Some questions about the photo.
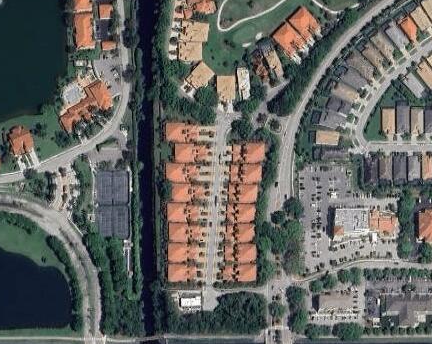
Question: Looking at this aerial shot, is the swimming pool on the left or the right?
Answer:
left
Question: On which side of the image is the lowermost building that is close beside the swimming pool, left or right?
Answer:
left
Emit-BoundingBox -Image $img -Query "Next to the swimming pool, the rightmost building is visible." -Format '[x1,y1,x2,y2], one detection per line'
[85,78,119,112]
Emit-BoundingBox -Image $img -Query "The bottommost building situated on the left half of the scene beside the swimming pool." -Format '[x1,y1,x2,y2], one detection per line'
[56,97,97,137]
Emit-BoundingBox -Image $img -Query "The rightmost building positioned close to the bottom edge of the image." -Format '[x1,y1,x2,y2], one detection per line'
[386,295,432,327]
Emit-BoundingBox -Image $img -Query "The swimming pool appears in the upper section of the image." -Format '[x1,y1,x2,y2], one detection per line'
[63,85,82,105]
